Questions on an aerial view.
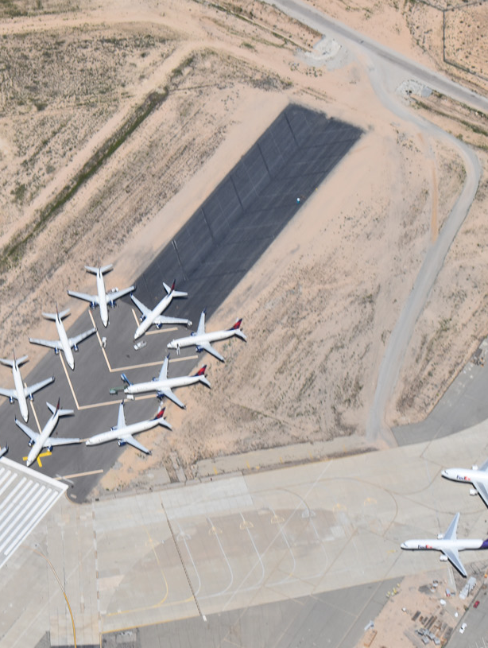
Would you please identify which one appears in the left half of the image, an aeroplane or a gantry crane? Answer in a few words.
aeroplane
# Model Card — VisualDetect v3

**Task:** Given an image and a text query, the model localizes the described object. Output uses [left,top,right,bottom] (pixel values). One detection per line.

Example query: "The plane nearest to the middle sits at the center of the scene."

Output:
[168,307,245,359]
